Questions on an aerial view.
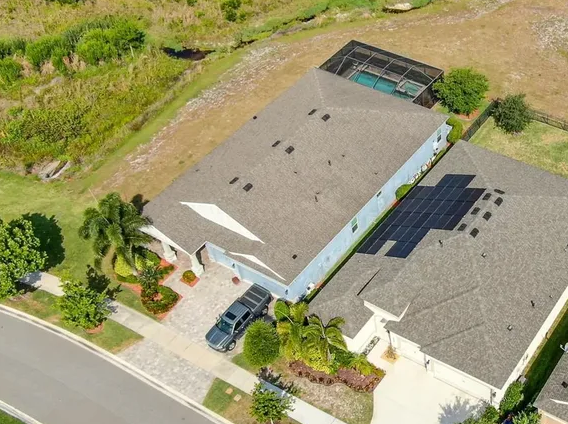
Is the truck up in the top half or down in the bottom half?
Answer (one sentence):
Seen from above, the truck lies in the bottom half of the view.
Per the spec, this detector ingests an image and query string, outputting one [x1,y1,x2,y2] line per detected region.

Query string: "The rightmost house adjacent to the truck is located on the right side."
[298,140,568,405]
